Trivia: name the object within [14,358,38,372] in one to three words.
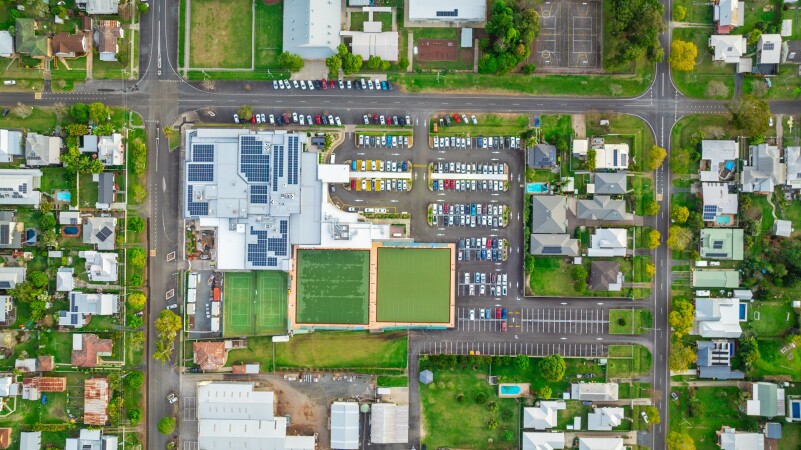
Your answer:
shed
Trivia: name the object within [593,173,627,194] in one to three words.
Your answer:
house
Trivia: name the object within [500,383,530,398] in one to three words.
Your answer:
swimming pool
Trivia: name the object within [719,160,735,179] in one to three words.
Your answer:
swimming pool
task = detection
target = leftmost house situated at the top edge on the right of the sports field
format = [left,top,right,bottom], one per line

[283,0,342,61]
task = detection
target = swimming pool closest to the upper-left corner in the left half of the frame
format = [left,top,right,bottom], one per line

[52,189,71,209]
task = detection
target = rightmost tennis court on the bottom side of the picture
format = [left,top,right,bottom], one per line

[256,272,288,337]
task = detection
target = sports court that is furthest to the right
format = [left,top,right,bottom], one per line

[564,0,602,67]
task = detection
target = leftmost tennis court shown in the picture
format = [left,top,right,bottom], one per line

[224,272,256,337]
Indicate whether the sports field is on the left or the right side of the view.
left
